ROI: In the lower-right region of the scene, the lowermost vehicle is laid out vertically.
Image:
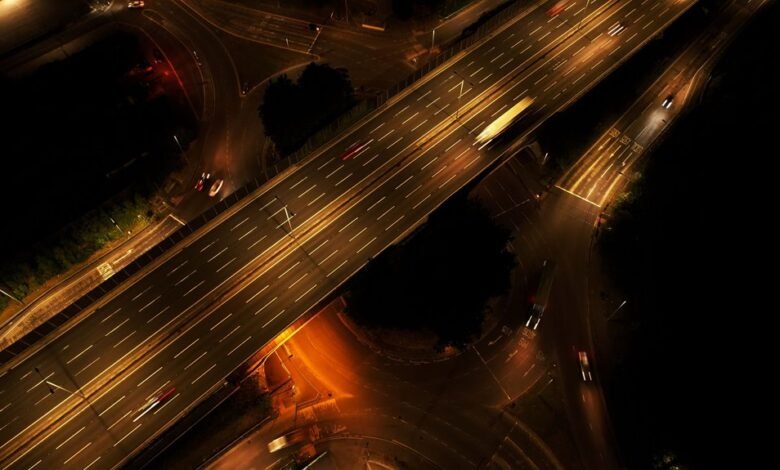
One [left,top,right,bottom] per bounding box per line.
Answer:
[580,356,592,376]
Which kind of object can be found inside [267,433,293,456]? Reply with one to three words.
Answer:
vehicle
